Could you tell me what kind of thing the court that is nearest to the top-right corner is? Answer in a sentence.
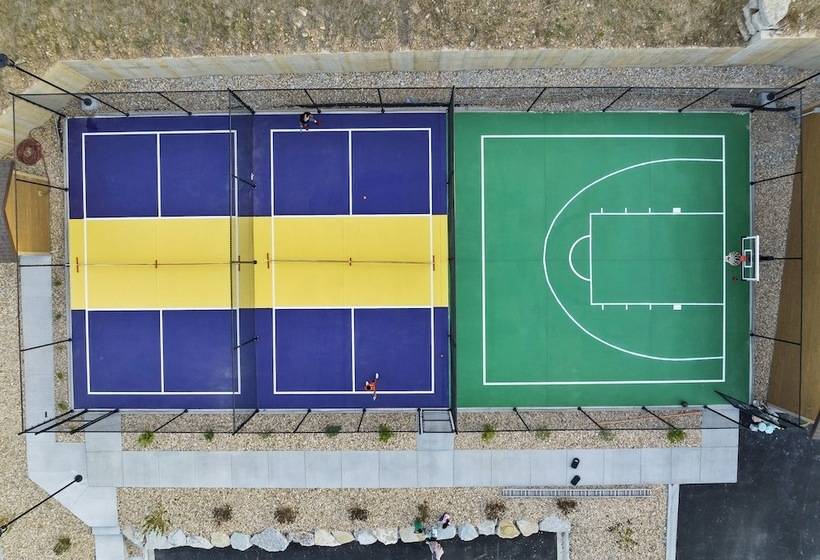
What you see as the court that is nearest to the top-right corner is a basketball court.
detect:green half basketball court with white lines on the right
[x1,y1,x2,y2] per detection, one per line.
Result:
[456,112,750,407]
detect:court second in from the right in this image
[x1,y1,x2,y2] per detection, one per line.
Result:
[254,113,449,409]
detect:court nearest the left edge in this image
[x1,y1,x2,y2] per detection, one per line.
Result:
[67,115,257,409]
